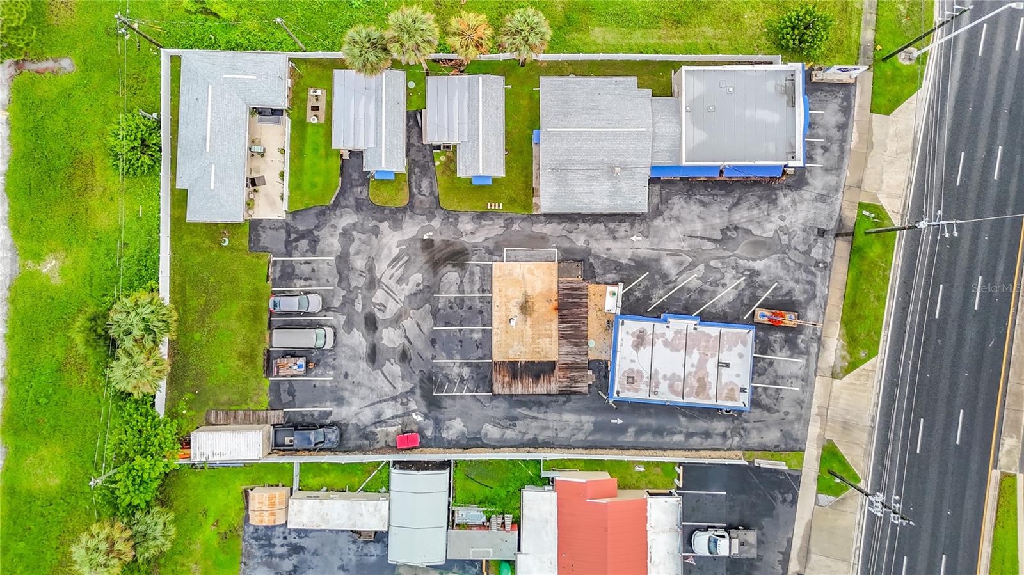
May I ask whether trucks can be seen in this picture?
Yes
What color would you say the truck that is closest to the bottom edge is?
white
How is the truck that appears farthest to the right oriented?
from side to side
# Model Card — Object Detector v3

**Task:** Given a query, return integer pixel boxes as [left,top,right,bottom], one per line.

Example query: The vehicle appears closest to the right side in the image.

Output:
[689,525,757,559]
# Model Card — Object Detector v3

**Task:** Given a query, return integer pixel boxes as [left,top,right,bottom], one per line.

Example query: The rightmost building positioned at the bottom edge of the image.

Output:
[516,471,683,575]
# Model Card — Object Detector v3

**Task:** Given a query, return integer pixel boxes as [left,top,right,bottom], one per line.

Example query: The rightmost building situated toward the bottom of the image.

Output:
[605,313,755,410]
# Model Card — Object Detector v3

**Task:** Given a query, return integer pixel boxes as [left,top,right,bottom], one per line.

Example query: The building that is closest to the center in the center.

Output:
[492,261,559,362]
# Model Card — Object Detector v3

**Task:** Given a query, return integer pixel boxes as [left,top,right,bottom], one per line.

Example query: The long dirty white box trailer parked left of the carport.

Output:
[288,493,389,536]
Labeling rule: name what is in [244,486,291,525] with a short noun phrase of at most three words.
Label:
shed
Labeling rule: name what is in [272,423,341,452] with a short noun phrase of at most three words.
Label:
truck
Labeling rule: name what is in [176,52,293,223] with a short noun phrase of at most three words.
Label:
house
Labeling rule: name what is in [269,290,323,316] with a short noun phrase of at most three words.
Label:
car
